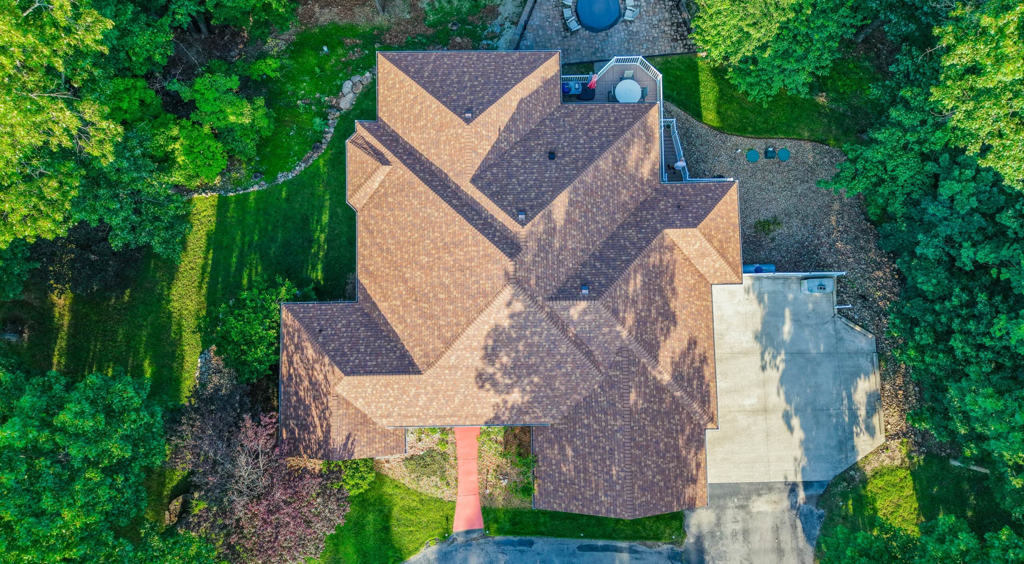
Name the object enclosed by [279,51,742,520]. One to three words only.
house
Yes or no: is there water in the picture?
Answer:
No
